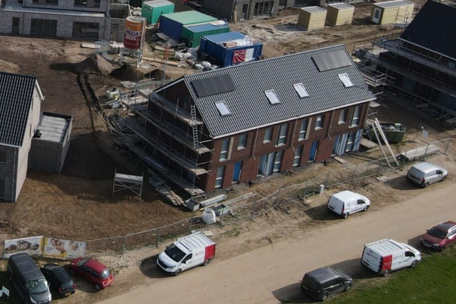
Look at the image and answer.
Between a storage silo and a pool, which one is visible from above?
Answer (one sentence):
This aerial view contains a storage silo.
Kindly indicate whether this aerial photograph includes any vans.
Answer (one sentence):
Yes, a van appears in the view.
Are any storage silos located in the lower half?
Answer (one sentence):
No, no storage silo is visible in the lower half.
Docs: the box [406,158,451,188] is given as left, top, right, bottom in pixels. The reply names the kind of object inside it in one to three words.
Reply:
van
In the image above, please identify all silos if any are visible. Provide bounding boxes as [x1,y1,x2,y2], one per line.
[122,11,151,67]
